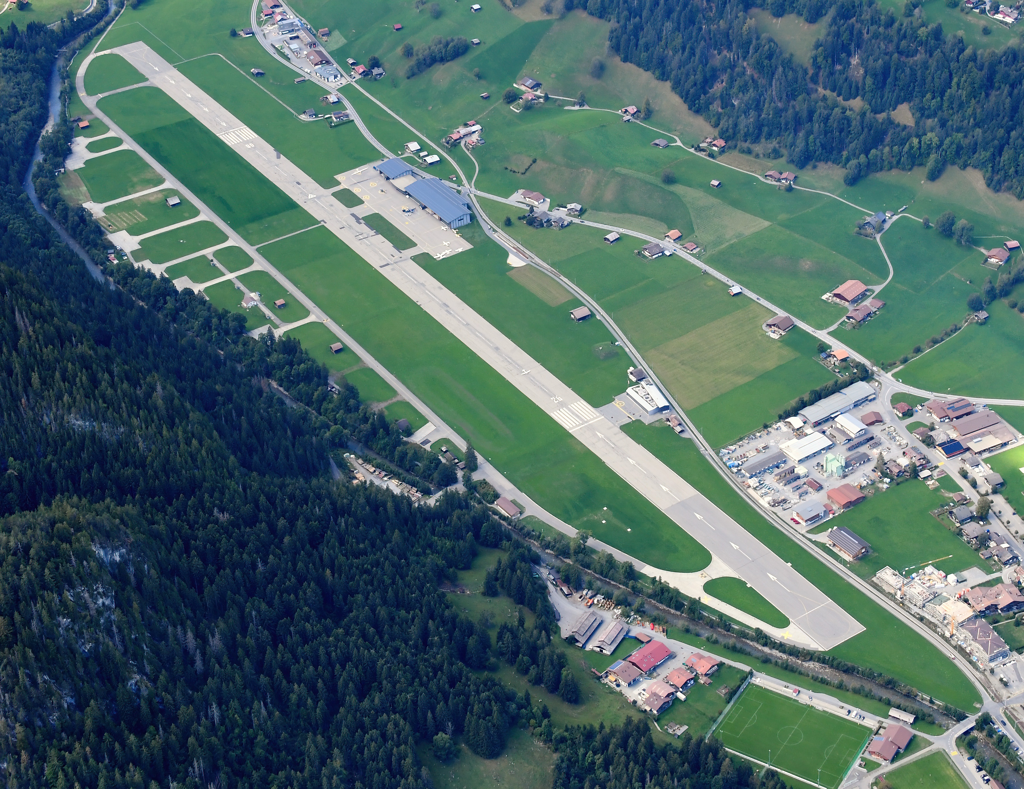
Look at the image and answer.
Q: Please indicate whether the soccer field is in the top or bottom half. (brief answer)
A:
bottom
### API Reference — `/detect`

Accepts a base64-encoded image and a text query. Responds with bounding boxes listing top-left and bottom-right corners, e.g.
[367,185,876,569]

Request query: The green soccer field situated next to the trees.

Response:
[703,682,875,789]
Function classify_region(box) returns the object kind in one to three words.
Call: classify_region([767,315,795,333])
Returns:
barn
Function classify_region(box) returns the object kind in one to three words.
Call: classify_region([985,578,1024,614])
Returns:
building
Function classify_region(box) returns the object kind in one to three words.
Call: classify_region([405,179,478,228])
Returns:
hangar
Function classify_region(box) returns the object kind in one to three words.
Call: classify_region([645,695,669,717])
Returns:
house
